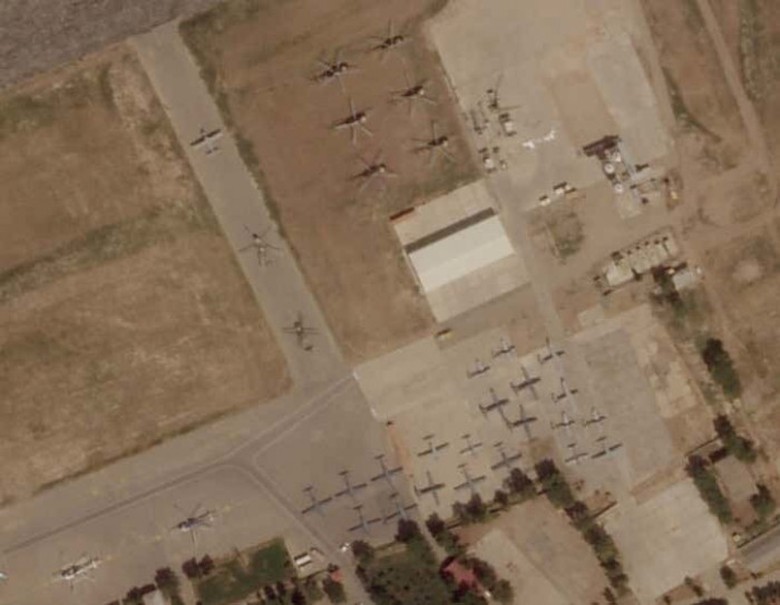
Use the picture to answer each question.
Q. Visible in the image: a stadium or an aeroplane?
aeroplane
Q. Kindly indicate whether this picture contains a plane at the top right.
No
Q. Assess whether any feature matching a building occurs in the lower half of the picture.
Yes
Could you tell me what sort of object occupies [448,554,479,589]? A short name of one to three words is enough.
house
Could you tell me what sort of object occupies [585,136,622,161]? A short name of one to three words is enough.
shed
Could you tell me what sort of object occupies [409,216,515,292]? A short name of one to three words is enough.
hangar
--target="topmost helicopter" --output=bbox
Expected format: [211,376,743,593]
[366,21,412,61]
